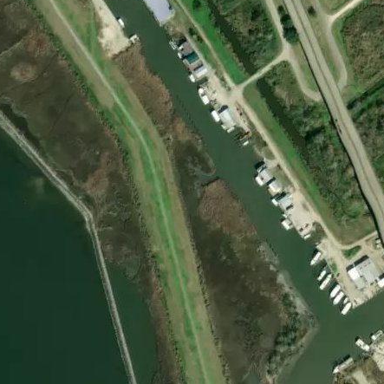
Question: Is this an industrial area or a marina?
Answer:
marina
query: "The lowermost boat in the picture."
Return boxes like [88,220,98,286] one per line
[332,357,355,374]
